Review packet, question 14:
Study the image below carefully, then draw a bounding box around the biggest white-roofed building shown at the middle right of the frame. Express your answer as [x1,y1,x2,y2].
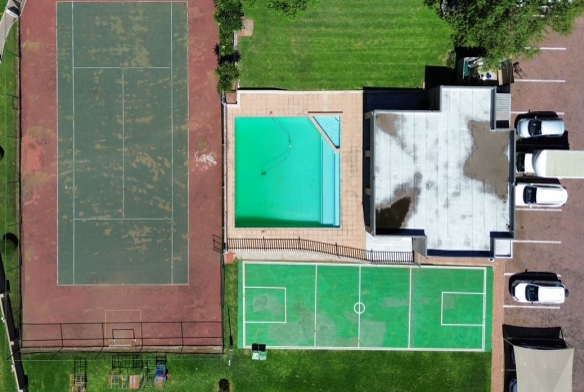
[364,86,515,262]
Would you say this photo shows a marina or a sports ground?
sports ground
